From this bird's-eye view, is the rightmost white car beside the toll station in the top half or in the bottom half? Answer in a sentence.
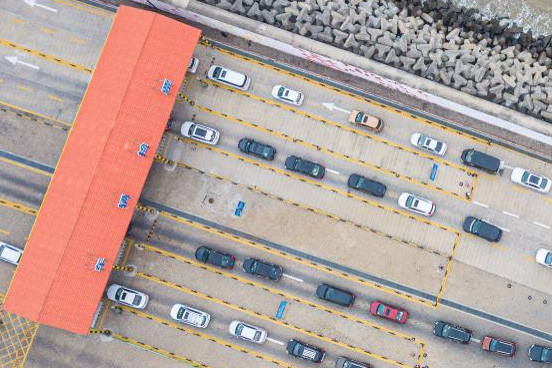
Seen from above, the rightmost white car beside the toll station lies in the top half of the view.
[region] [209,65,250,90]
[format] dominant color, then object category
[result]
white car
